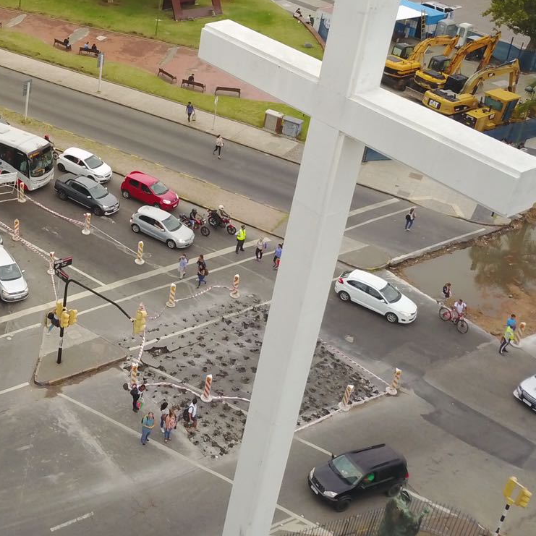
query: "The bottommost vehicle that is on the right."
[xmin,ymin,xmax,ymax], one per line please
[299,442,420,517]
